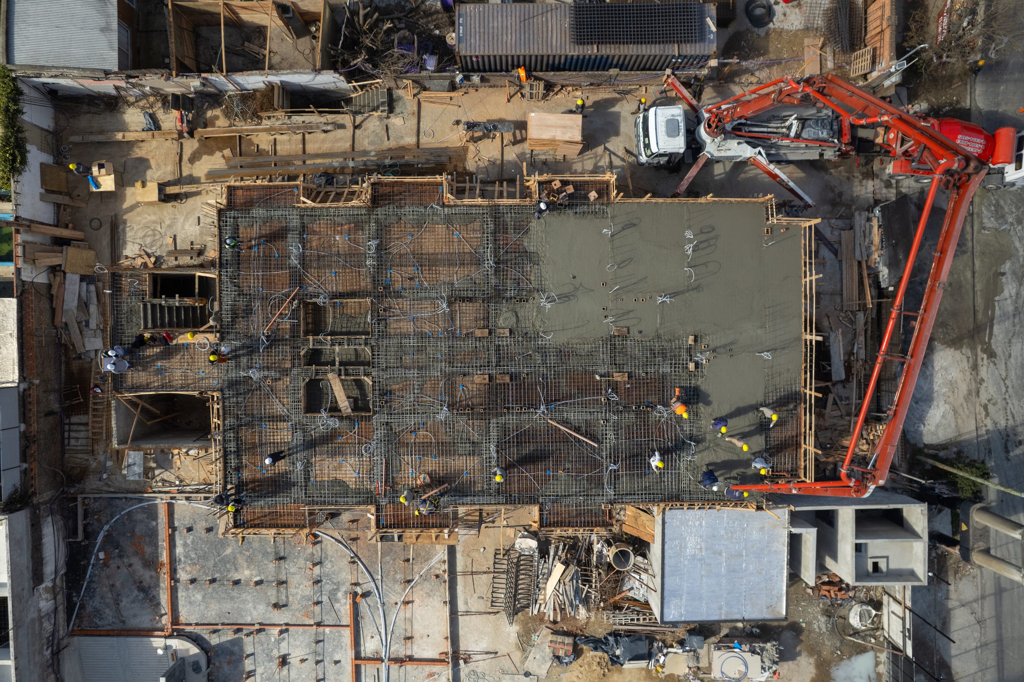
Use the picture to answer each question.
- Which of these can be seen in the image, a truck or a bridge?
truck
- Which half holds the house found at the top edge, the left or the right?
left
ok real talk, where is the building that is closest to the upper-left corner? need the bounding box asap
[0,0,151,98]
